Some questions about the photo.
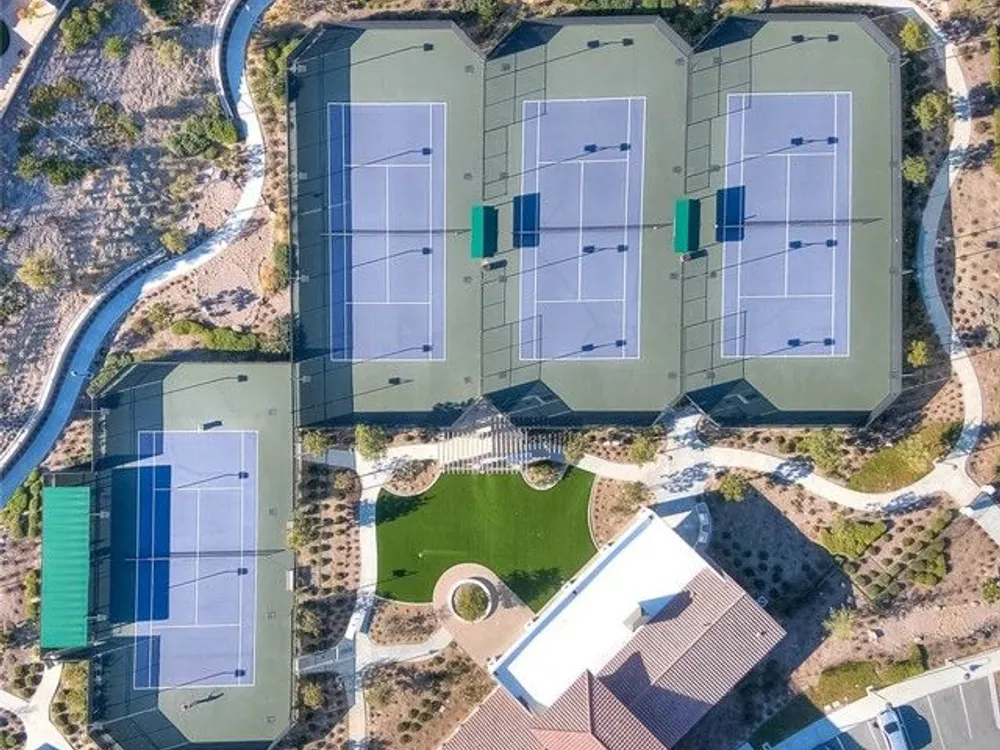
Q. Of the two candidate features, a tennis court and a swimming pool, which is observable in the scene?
tennis court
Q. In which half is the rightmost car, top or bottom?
bottom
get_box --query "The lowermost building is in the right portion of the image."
[429,509,786,750]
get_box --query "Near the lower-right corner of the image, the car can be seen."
[875,708,906,750]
